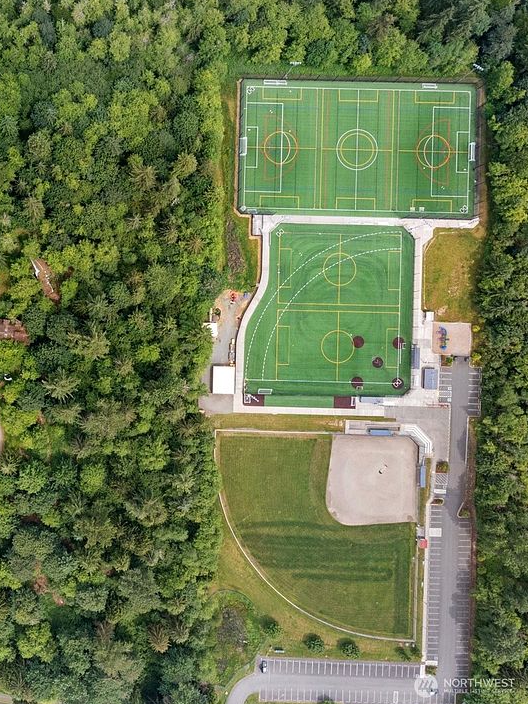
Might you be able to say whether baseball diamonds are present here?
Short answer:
Yes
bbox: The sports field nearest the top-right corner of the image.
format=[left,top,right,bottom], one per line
[240,80,475,217]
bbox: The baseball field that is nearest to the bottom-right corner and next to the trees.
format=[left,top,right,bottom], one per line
[215,431,417,640]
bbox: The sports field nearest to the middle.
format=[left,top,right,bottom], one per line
[243,224,415,409]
